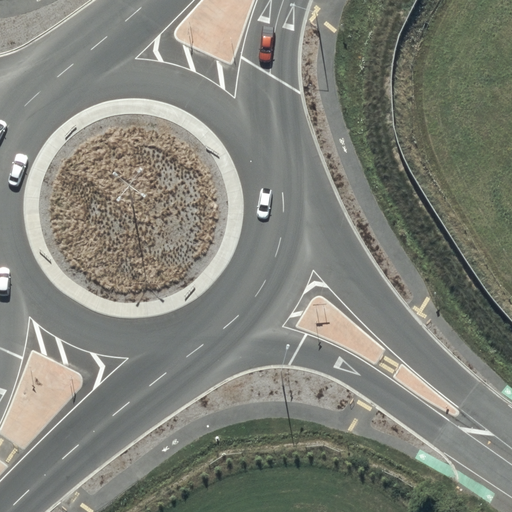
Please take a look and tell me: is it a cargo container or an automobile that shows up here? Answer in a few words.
automobile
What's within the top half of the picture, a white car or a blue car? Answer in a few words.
white car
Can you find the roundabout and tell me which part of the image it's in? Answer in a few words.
left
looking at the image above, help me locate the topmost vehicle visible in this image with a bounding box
[258,27,274,65]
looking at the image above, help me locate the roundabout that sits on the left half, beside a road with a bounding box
[24,99,244,318]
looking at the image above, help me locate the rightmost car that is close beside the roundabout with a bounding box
[256,188,274,222]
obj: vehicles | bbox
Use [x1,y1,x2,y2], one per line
[0,120,7,141]
[8,154,27,188]
[258,27,274,65]
[0,266,10,299]
[256,188,274,222]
